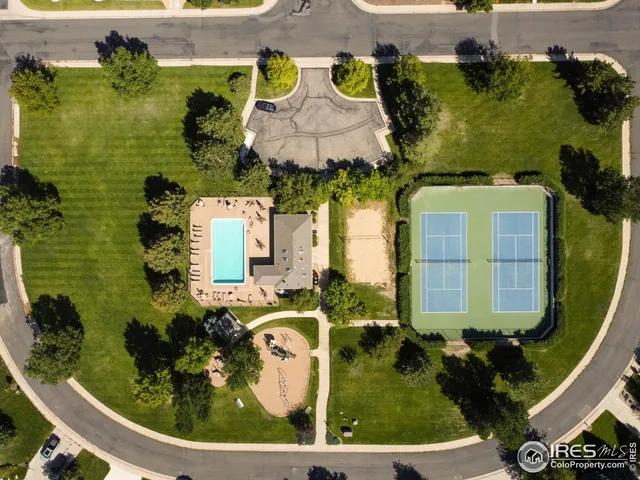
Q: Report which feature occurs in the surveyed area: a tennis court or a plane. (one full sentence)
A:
Looking from above, you can make out a tennis court.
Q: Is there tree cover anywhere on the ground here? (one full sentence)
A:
Yes, tree cover can be seen from above here.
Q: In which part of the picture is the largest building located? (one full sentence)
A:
The largest building is in the center part of the image.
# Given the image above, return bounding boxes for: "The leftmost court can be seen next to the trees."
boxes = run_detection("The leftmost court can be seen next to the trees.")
[341,197,401,303]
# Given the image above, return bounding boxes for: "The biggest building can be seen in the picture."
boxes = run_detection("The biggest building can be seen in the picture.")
[254,214,312,289]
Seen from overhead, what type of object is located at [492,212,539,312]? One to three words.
tennis court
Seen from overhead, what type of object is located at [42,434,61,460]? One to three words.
vehicle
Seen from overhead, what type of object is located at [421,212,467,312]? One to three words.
tennis court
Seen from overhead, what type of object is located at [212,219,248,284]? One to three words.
swimming pool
